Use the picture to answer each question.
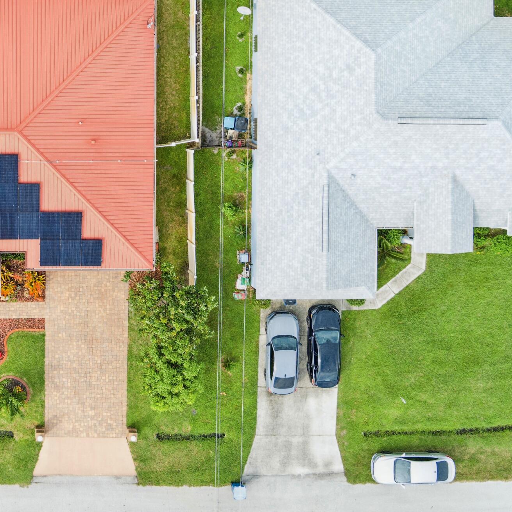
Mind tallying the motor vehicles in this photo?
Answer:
three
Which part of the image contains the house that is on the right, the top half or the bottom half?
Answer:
top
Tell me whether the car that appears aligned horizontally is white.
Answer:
Yes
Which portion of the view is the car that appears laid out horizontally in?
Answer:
bottom right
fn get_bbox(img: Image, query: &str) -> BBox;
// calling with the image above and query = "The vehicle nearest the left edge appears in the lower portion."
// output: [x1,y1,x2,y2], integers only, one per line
[263,309,305,394]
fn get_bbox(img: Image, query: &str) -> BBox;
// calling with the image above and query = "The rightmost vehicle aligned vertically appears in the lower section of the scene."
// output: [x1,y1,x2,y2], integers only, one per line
[306,302,347,388]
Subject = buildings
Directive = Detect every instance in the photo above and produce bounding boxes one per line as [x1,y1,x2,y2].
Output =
[0,0,162,296]
[245,0,512,299]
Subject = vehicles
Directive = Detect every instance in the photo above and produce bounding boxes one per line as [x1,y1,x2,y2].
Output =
[263,309,305,394]
[306,302,347,388]
[371,448,458,490]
